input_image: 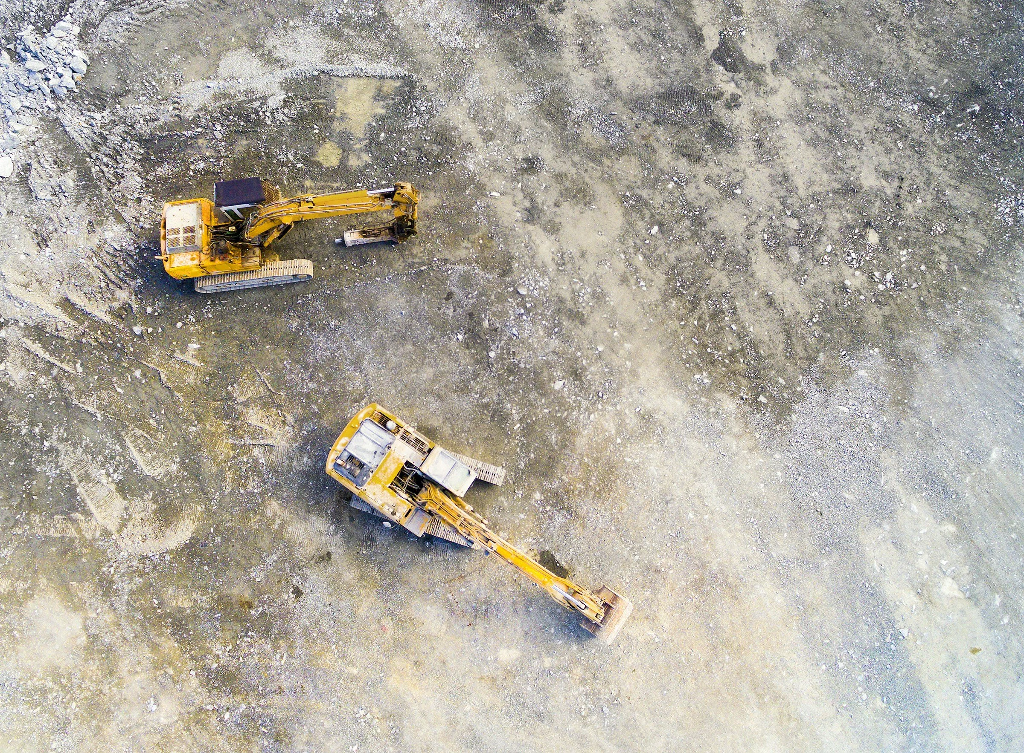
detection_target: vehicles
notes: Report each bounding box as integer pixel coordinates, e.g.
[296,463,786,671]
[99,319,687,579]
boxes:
[152,170,428,295]
[327,405,634,644]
